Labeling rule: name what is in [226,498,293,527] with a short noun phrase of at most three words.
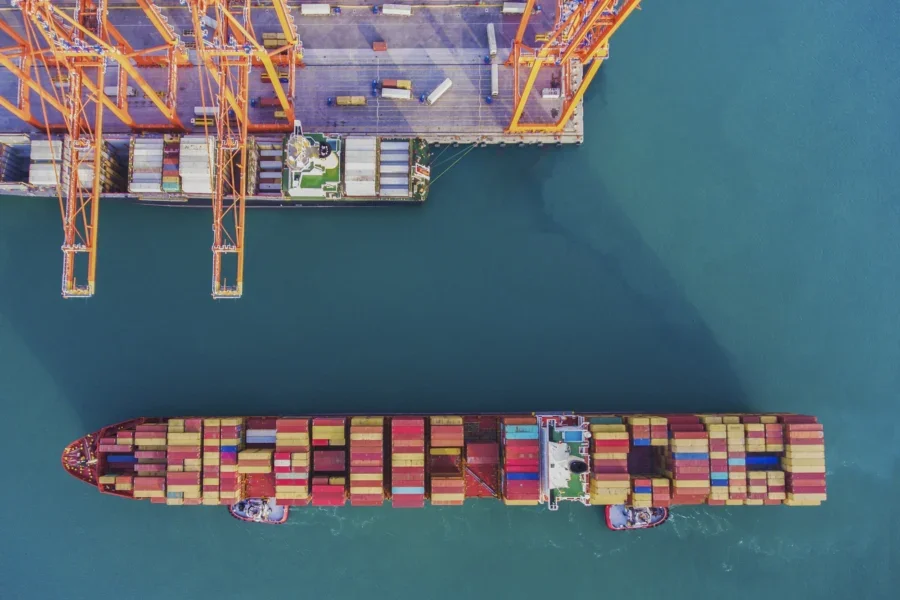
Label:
boat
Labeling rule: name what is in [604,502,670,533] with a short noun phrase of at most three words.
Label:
boat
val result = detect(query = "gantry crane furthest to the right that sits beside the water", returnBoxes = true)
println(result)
[502,0,636,134]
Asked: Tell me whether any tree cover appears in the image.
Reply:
No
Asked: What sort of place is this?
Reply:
port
